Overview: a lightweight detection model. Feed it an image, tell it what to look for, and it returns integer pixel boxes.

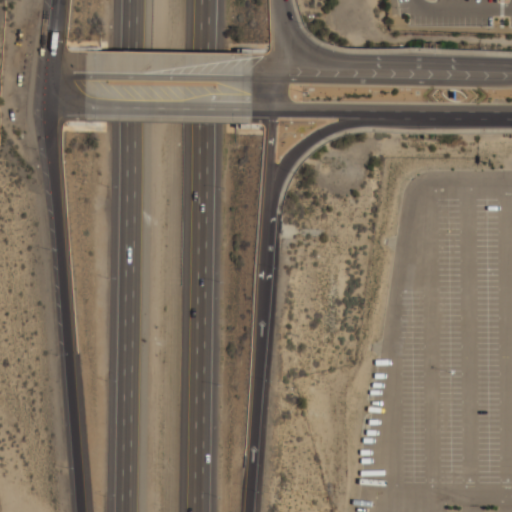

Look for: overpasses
[64,42,268,135]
